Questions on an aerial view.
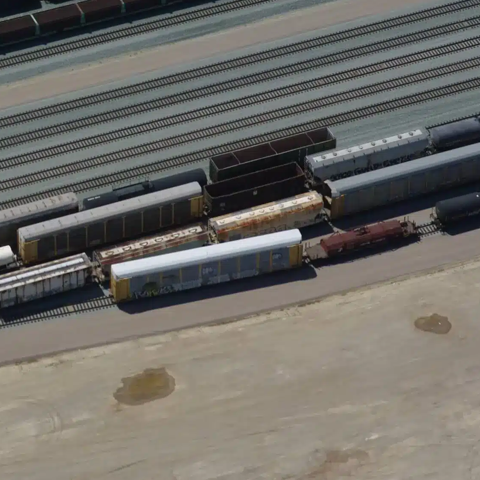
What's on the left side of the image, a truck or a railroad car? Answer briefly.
railroad car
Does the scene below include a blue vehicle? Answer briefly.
No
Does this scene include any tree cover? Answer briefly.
No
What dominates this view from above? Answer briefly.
paved ground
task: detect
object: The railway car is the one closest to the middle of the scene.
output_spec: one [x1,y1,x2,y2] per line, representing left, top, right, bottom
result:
[82,170,214,212]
